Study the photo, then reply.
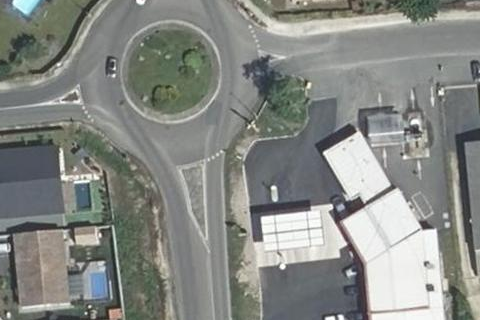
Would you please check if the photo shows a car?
Yes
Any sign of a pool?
Yes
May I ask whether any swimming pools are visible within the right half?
No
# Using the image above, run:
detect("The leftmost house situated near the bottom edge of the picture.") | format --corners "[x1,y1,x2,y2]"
[12,229,73,312]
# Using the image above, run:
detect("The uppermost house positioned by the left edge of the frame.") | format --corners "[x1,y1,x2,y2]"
[0,144,65,218]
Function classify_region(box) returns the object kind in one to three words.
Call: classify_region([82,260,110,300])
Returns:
swimming pool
